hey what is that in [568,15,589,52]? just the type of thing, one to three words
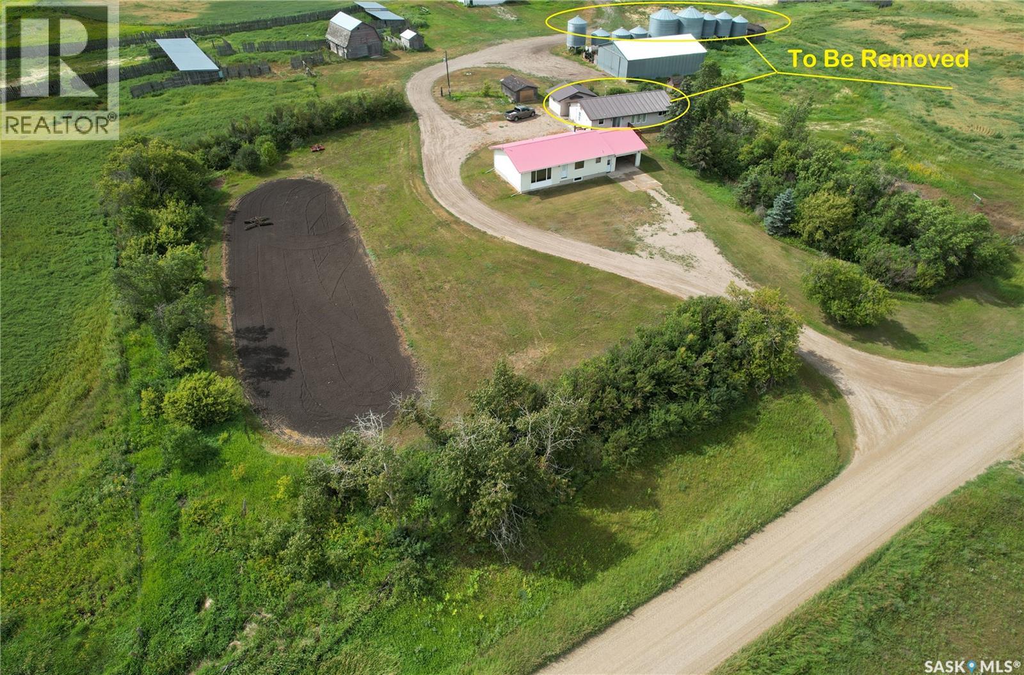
silo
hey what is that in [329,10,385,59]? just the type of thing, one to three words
barn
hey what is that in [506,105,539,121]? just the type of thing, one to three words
vehicle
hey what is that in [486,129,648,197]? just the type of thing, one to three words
house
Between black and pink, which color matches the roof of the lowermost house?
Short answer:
pink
